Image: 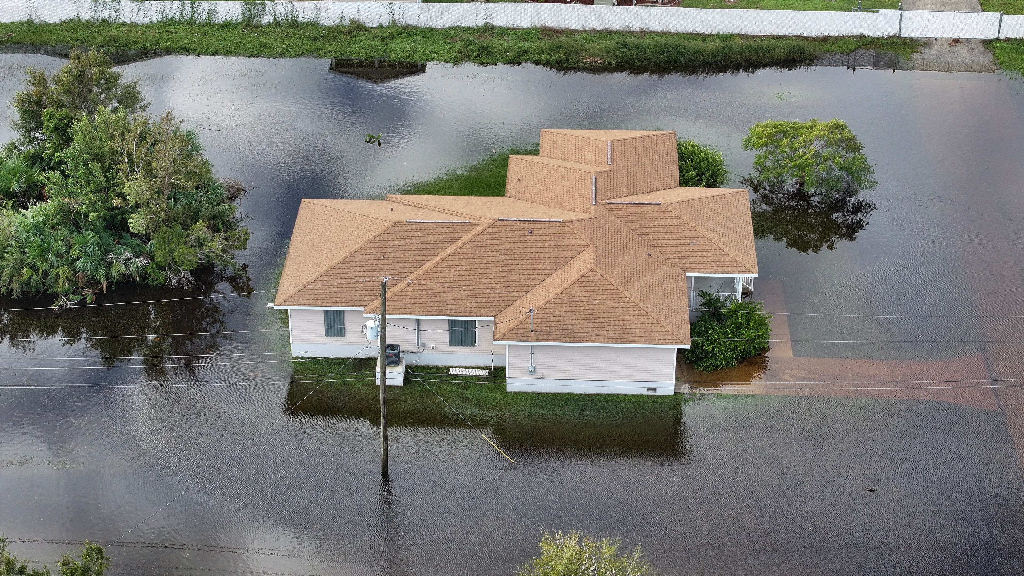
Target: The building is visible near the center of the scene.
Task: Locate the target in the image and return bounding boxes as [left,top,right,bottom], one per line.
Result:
[266,128,760,404]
